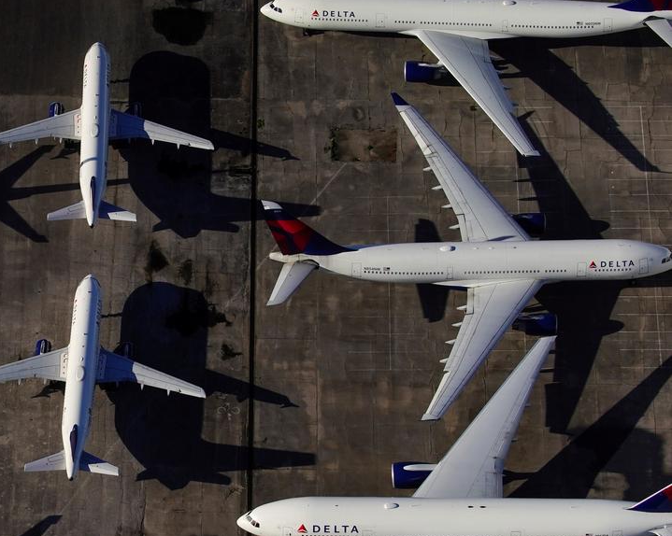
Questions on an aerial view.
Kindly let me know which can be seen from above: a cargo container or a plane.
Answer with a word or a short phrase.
plane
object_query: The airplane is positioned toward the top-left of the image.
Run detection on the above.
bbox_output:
[0,44,211,226]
